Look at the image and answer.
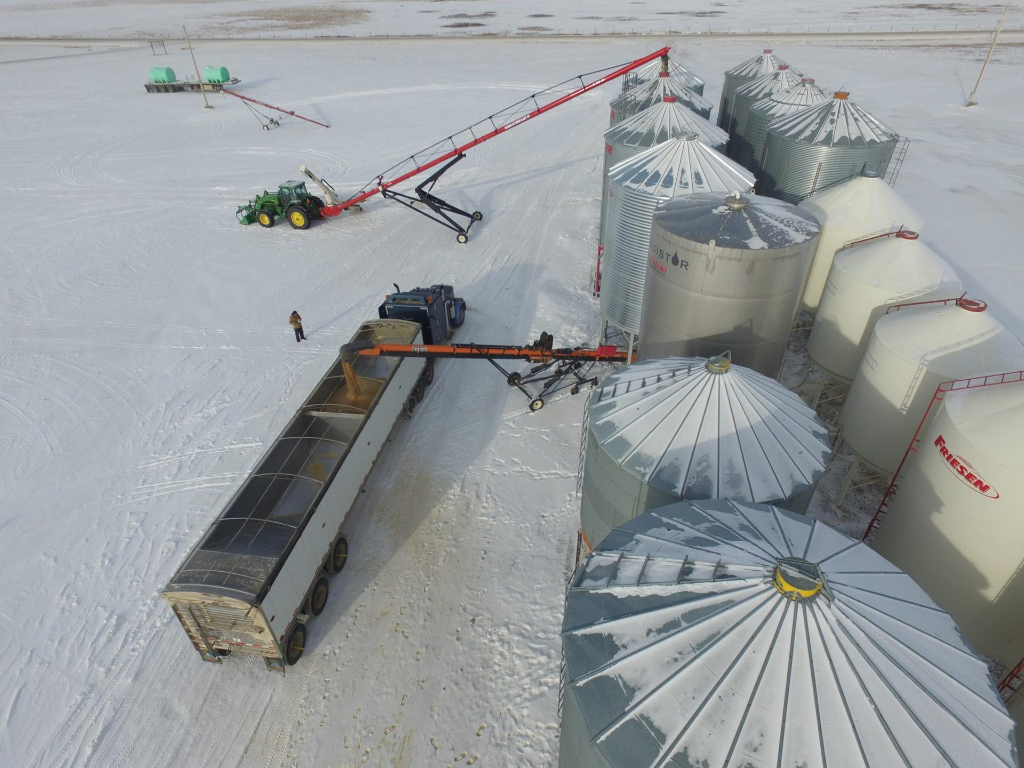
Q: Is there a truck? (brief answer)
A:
Yes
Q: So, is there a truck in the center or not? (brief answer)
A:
Yes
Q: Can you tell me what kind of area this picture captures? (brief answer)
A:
industrial area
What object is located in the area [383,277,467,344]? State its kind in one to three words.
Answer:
truck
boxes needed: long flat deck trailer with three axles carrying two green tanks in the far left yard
[143,76,241,93]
